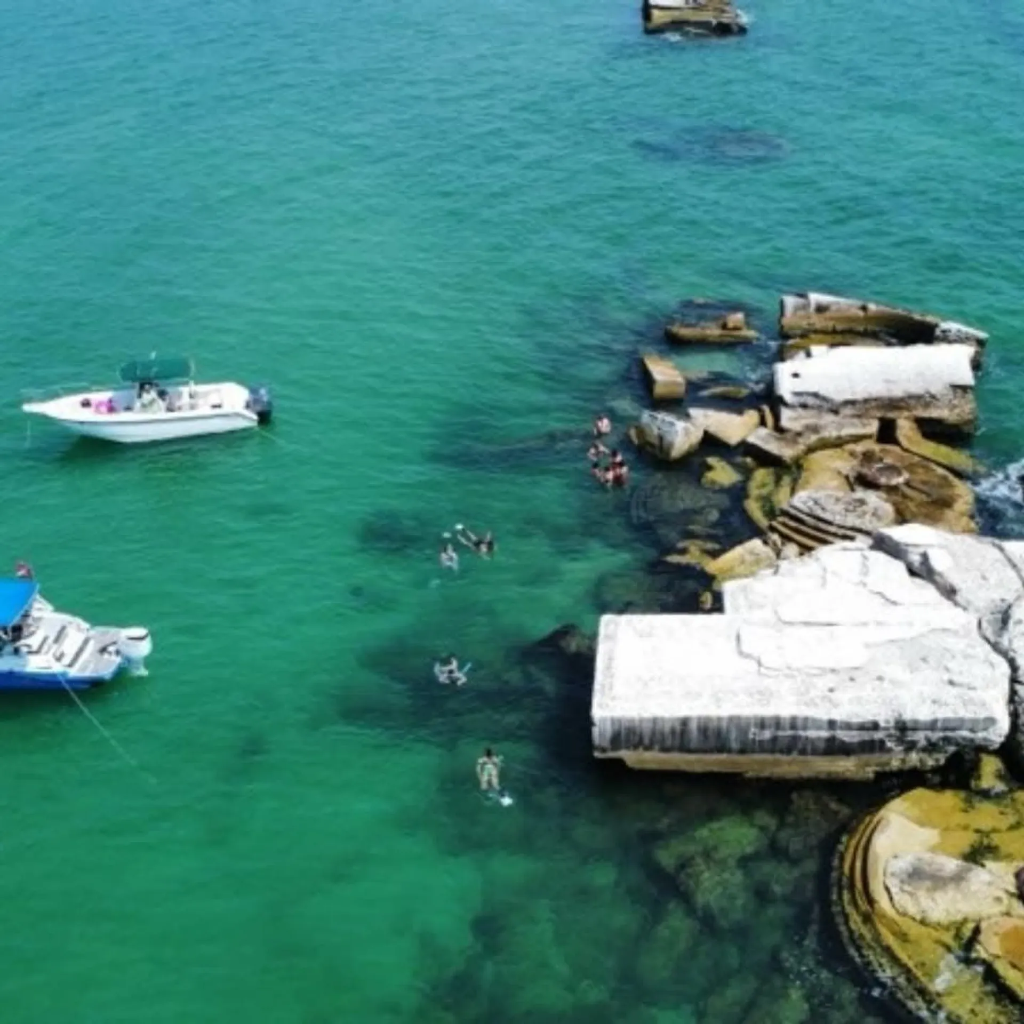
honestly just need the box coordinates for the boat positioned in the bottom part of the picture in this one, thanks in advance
[0,580,165,695]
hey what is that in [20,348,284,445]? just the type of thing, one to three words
boat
